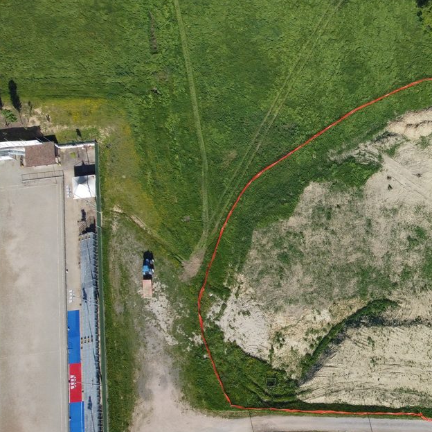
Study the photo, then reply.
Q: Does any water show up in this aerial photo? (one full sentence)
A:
No, there is no water in the image.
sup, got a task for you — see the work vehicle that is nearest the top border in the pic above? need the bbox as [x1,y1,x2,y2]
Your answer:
[138,258,152,277]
